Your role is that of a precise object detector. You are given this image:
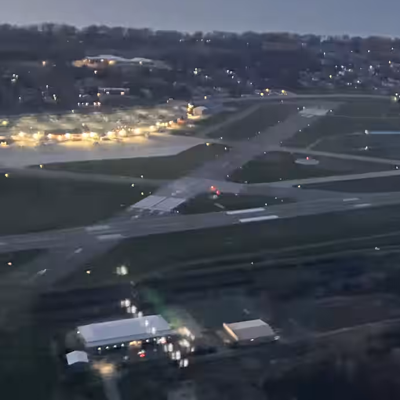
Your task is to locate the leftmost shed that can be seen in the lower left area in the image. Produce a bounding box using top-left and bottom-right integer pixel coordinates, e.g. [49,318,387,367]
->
[60,352,89,368]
